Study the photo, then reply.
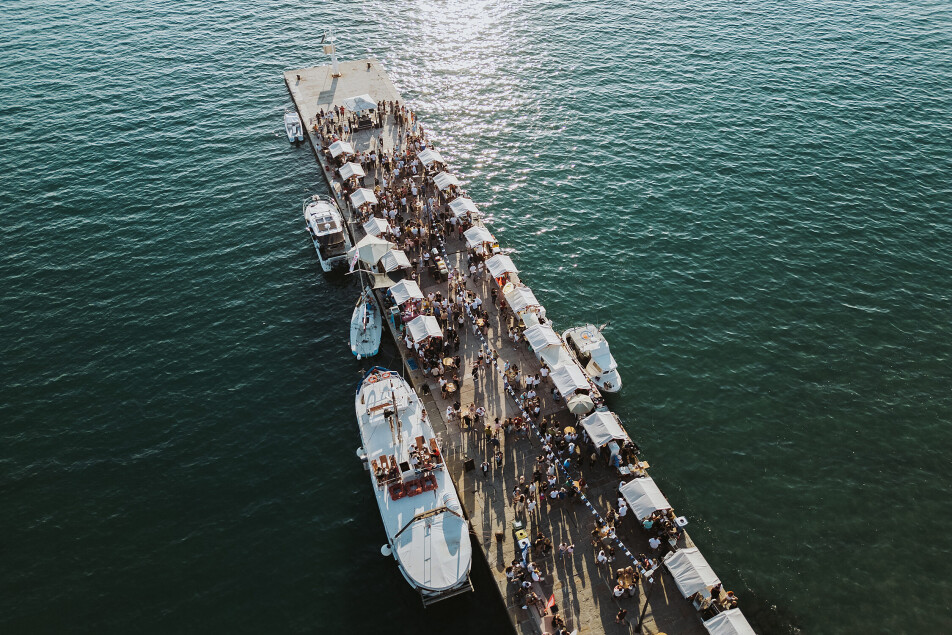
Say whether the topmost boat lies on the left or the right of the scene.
left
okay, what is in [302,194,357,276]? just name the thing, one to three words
boat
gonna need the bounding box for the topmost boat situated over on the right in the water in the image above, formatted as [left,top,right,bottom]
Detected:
[563,311,621,399]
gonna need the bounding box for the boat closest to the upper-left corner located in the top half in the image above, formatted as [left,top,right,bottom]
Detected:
[279,107,306,149]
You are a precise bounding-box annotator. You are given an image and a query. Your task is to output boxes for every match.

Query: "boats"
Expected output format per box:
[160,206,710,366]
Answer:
[342,196,381,364]
[302,194,357,276]
[563,311,621,399]
[279,107,306,149]
[351,360,475,613]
